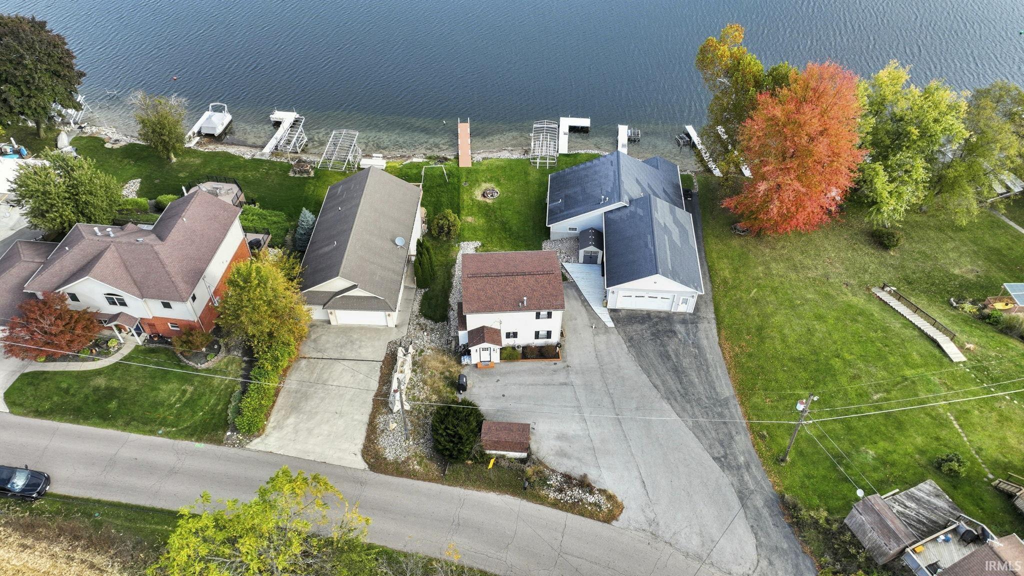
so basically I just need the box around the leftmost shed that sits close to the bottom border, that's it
[843,494,917,565]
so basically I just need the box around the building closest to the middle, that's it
[457,248,566,370]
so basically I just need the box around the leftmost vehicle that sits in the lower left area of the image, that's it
[0,466,55,497]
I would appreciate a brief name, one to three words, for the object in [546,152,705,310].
house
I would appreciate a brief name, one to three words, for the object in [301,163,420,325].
house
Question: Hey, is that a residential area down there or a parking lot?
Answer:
residential area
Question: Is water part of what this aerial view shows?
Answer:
Yes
